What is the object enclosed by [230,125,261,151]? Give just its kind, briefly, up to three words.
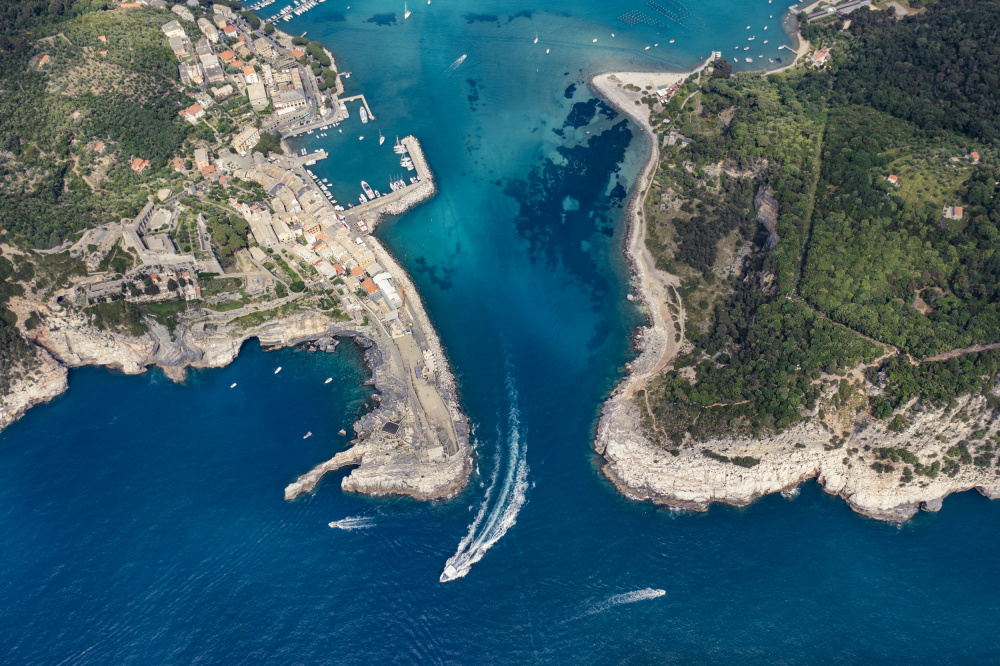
building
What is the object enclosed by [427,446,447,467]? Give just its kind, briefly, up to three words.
building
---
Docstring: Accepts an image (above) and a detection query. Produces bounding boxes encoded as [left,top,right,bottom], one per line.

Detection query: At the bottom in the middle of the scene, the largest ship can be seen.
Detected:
[439,550,469,582]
